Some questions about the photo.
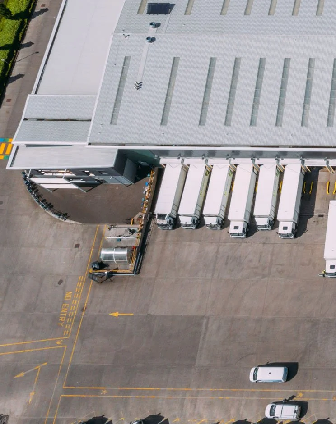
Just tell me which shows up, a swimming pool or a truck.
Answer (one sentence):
Looking from above, you can make out a truck.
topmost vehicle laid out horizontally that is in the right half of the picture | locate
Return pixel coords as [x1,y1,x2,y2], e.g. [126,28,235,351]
[251,366,289,383]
